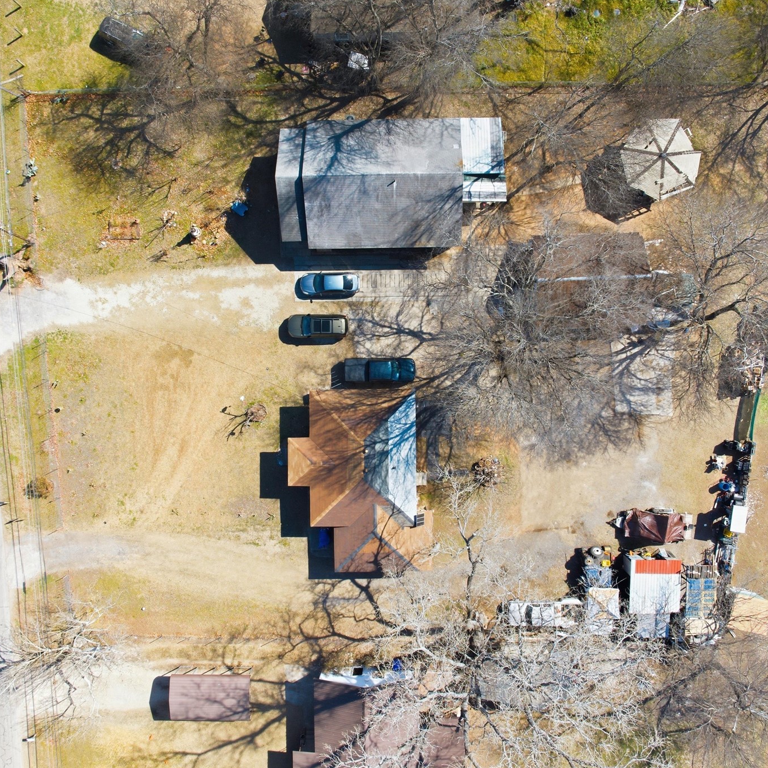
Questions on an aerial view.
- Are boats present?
No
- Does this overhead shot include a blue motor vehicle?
Yes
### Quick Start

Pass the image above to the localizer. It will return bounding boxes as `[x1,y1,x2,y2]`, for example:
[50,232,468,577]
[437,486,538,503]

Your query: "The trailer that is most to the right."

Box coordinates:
[615,514,686,548]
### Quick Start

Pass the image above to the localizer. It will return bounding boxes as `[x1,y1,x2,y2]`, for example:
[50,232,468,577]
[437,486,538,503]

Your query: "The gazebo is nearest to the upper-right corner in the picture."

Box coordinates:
[615,118,704,204]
